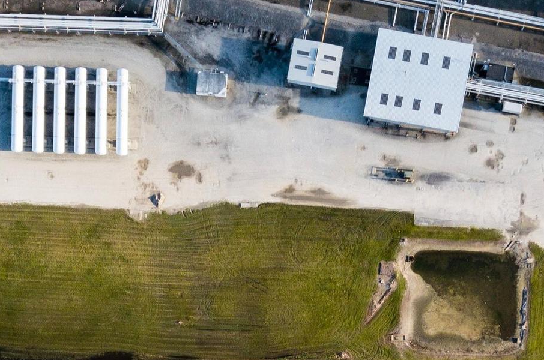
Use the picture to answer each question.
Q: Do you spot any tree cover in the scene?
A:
No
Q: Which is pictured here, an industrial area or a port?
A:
industrial area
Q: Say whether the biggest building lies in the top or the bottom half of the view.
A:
top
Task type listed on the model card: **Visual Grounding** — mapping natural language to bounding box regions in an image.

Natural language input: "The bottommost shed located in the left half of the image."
[196,68,228,98]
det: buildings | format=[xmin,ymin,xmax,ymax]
[196,68,228,98]
[363,28,474,133]
[288,38,344,91]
